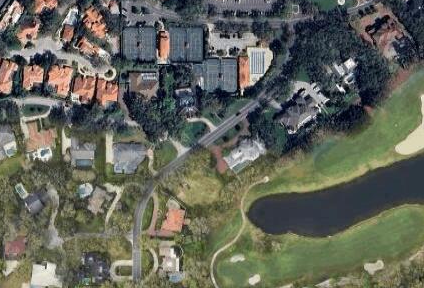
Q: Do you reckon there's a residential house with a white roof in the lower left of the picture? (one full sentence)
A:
Yes, the scene does show a residential house with a white roof in the lower left of the picture.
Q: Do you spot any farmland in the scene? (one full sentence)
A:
No, the picture contains no farmland.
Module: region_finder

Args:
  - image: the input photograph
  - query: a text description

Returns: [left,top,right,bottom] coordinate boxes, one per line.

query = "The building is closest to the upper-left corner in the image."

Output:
[0,5,22,32]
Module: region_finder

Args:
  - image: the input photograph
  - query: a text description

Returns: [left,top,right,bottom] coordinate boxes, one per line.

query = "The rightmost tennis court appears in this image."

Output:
[221,58,237,93]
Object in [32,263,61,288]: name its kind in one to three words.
house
